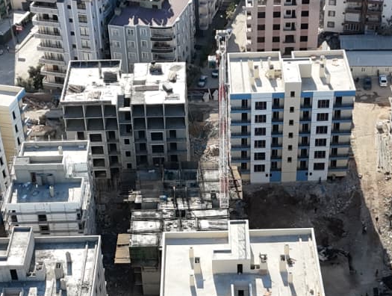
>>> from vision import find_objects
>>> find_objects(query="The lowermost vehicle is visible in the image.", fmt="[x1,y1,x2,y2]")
[320,242,357,260]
